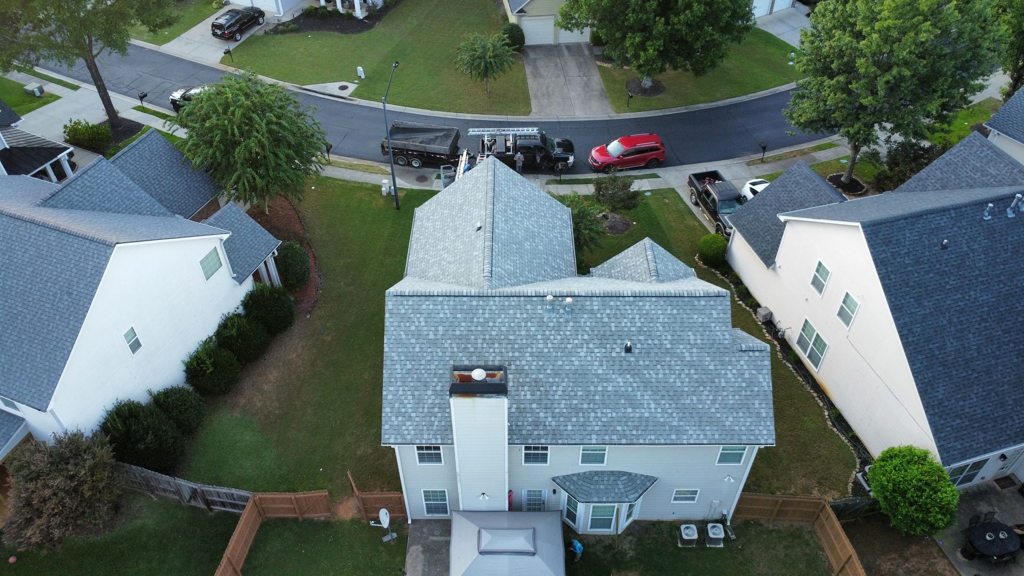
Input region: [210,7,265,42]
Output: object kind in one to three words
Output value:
car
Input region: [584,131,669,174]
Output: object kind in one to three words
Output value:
car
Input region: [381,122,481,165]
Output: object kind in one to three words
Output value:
trailer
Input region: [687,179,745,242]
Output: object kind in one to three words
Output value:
truck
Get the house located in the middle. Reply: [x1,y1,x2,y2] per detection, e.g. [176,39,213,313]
[382,155,775,535]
